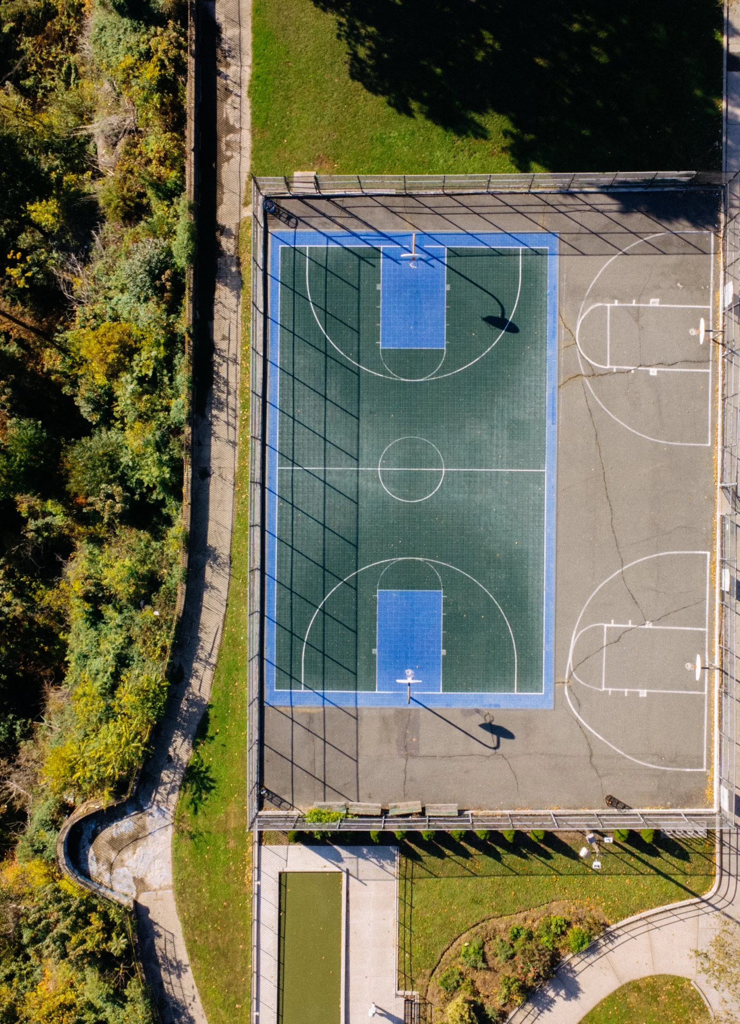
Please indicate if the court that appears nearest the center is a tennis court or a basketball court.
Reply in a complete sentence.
The court that appears nearest the center appears to be a basketball court.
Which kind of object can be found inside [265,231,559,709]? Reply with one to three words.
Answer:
basketball court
